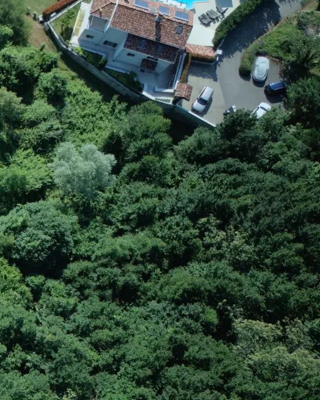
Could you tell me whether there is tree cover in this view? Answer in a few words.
Yes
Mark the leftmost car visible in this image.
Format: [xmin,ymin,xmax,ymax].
[191,84,217,114]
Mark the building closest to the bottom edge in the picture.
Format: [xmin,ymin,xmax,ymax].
[168,86,192,109]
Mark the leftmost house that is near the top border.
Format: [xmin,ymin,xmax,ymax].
[78,0,194,80]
